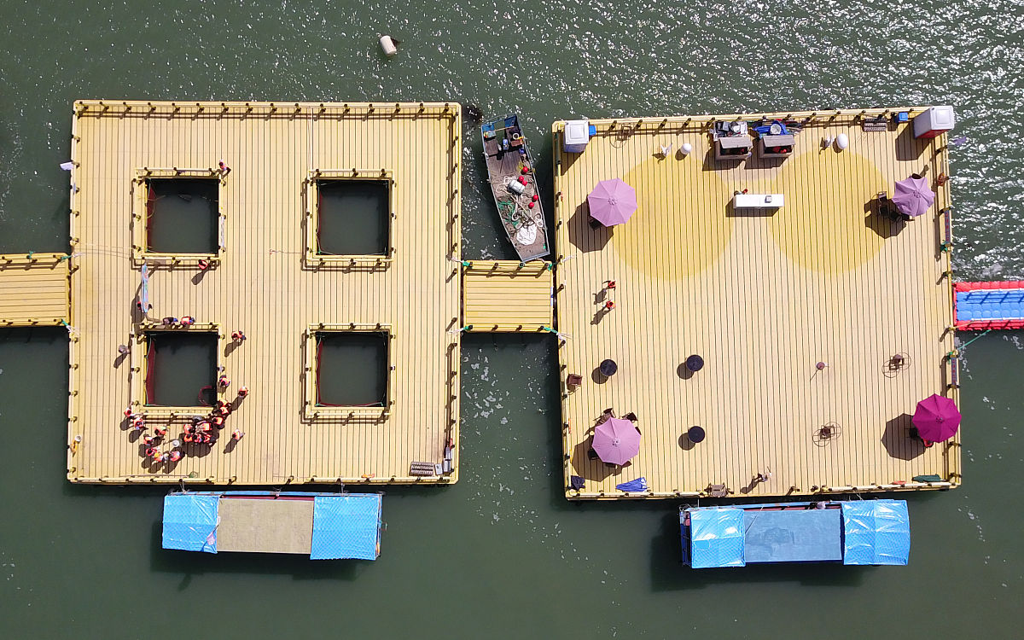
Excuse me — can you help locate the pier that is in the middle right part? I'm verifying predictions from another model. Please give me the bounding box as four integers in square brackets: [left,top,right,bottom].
[955,281,1024,330]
